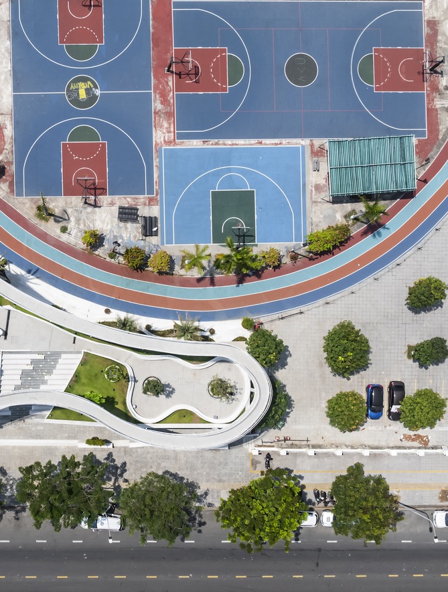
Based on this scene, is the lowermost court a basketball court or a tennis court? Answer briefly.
basketball court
